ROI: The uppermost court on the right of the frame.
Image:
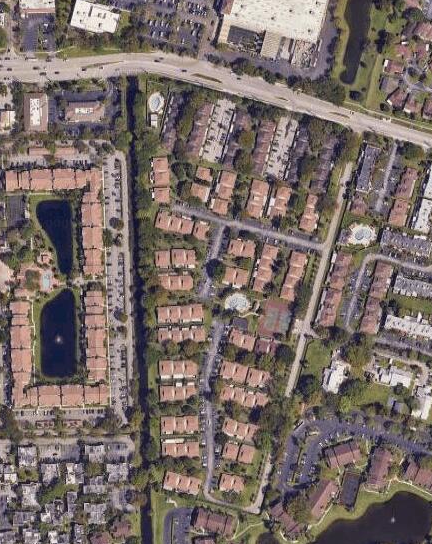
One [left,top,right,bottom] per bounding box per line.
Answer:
[258,301,292,339]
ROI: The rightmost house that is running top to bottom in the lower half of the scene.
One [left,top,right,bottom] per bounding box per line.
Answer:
[413,381,432,422]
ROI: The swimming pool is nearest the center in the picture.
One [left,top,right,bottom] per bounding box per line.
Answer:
[225,294,250,312]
